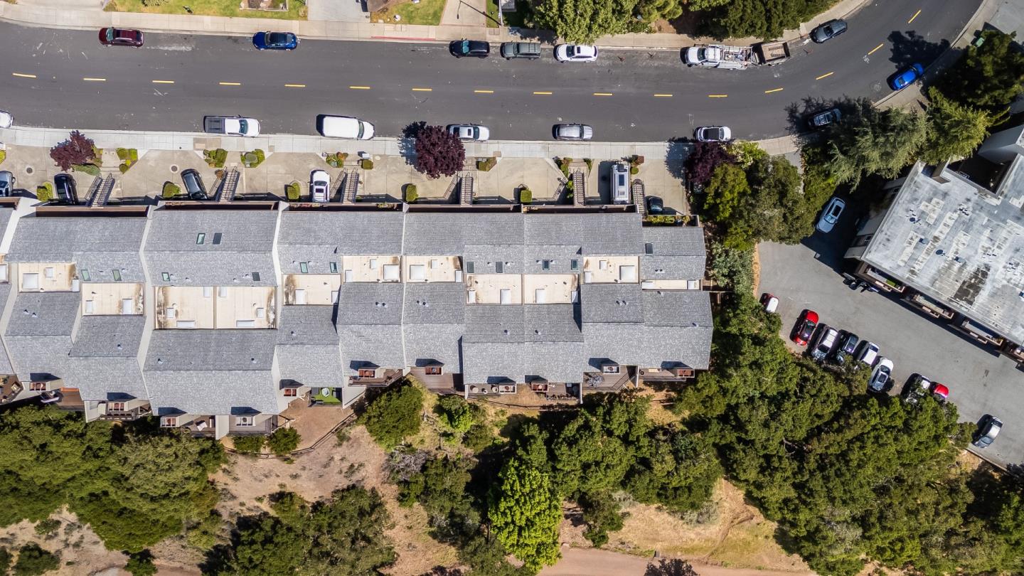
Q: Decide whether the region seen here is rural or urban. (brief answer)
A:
urban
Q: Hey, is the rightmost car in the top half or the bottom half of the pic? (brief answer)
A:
bottom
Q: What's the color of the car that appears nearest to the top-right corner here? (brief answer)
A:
blue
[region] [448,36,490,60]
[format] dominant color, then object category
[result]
black car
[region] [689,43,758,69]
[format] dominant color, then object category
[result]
white truck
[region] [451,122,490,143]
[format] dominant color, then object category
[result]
white car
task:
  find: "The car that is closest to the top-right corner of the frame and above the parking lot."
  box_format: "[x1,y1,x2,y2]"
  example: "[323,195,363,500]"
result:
[885,62,925,92]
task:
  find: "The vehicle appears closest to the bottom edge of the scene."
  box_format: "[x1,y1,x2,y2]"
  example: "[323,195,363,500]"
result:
[971,411,1003,450]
